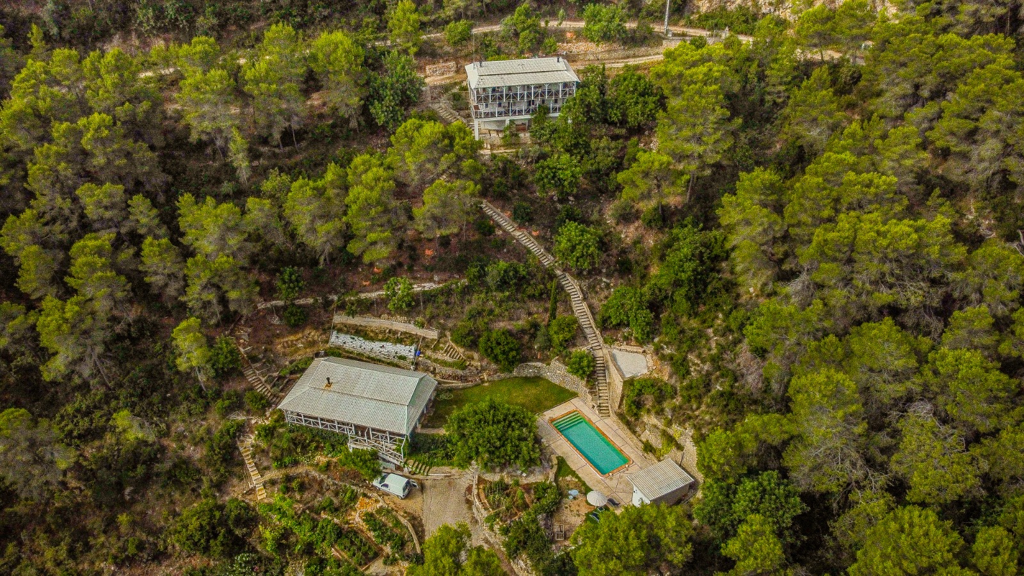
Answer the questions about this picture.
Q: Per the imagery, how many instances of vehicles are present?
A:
one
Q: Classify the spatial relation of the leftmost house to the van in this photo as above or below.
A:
above it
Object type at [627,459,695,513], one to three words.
shed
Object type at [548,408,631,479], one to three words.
swimming pool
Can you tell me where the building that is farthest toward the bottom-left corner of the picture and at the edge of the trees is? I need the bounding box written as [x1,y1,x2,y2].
[278,357,434,471]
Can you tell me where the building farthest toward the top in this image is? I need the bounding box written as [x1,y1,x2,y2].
[468,50,580,136]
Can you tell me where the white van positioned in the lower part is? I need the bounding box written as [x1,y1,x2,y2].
[371,470,419,499]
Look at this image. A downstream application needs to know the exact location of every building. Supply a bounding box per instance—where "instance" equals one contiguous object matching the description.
[468,50,580,136]
[278,357,434,471]
[627,459,695,513]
